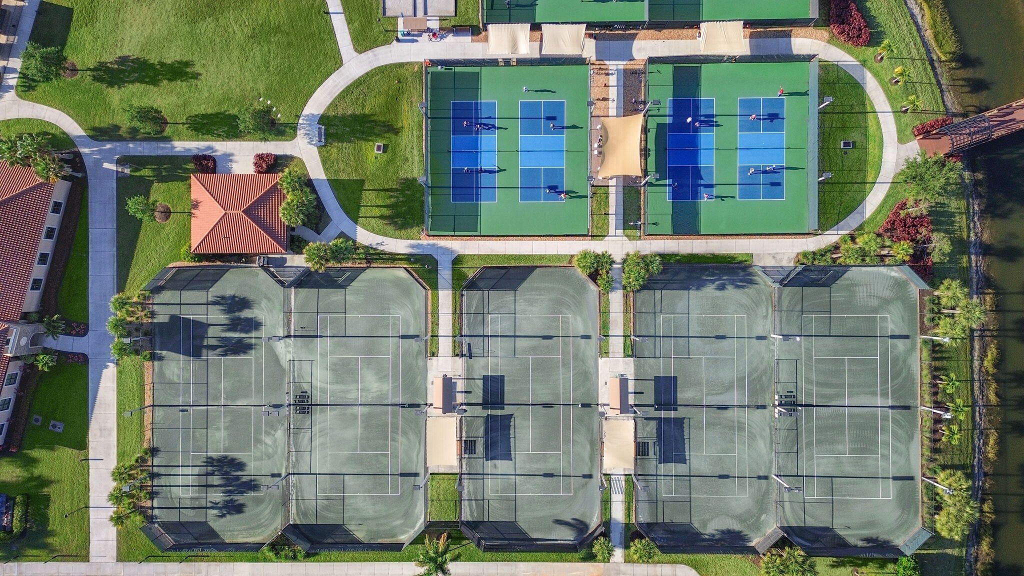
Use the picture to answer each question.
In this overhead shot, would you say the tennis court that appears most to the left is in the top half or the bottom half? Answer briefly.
bottom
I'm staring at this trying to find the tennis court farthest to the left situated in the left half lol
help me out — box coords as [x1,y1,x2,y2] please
[152,267,289,544]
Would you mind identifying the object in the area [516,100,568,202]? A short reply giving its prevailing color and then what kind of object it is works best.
blue sports court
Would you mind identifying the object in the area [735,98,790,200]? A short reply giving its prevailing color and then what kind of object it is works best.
blue sports court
